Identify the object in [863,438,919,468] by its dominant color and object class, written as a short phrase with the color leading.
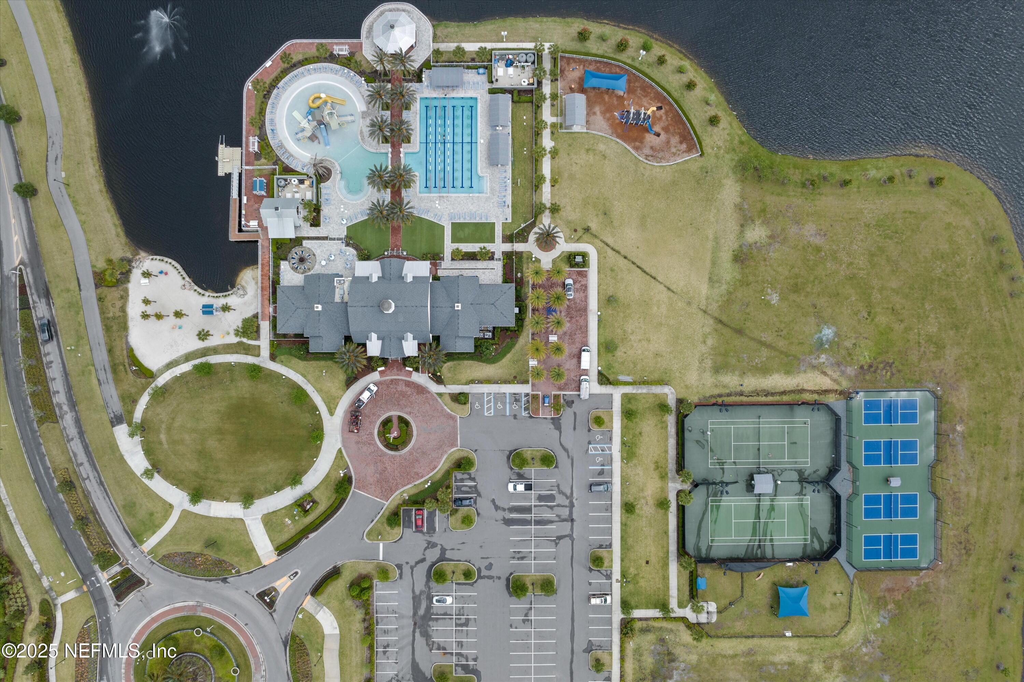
blue sports court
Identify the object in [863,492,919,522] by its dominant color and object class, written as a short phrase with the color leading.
blue sports court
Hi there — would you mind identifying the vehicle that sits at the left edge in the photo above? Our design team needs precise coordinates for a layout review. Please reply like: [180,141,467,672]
[39,319,51,340]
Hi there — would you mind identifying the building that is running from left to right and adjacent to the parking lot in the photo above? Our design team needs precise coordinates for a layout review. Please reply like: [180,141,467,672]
[277,257,519,362]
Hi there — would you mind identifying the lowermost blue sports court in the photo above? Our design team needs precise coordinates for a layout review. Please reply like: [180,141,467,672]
[863,533,919,563]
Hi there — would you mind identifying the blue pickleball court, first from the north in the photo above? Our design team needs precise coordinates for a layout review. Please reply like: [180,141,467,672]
[863,397,919,426]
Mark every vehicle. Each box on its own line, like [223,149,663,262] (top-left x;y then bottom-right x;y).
[454,497,475,507]
[589,594,612,605]
[416,509,424,529]
[543,395,549,405]
[564,278,574,299]
[356,384,376,408]
[580,346,590,369]
[508,482,533,491]
[39,319,51,340]
[590,483,611,492]
[579,376,589,400]
[433,595,453,605]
